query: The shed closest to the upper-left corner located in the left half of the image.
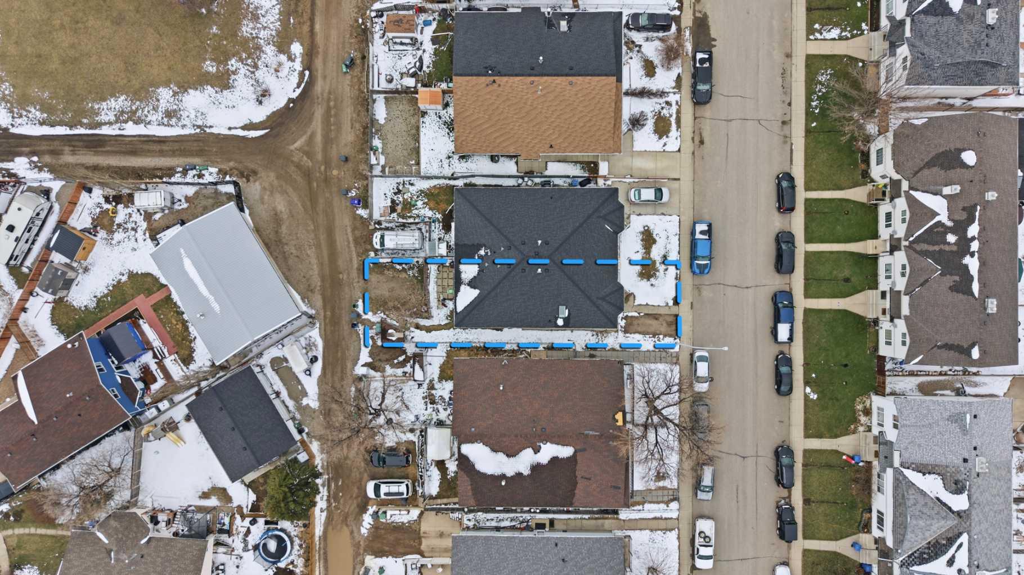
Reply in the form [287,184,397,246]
[46,224,98,262]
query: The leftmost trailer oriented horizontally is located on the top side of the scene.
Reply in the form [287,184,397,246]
[134,190,189,213]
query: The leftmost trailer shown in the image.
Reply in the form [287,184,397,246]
[0,188,53,265]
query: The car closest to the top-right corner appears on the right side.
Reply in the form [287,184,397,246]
[774,172,797,213]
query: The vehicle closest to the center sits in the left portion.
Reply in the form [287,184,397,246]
[374,229,424,251]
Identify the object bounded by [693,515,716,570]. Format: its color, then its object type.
white truck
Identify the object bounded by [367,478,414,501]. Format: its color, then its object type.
white car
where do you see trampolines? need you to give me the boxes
[252,526,294,567]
